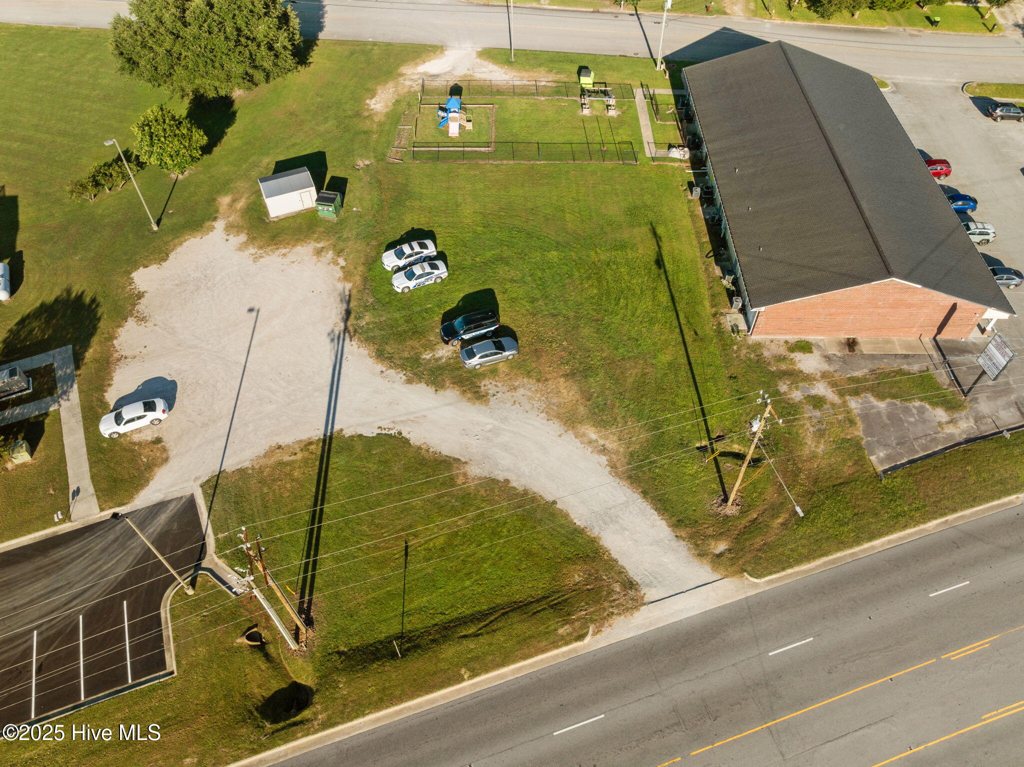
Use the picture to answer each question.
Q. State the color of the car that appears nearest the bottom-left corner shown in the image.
white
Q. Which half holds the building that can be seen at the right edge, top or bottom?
top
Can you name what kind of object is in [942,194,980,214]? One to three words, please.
car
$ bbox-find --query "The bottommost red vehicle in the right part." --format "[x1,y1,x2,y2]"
[920,160,953,182]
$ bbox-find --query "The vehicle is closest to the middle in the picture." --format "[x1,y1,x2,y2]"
[459,338,519,369]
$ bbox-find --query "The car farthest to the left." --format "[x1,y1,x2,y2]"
[97,399,168,439]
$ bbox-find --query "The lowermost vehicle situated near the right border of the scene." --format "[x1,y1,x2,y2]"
[986,268,1024,290]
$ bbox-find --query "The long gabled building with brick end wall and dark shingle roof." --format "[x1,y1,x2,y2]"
[683,41,1015,342]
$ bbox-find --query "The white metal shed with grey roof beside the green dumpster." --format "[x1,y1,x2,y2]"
[258,171,317,220]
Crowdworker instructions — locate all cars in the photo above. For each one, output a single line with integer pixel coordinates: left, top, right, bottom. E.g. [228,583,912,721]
[381,242,436,271]
[439,309,499,346]
[942,194,980,214]
[960,223,995,247]
[391,262,447,293]
[986,102,1024,123]
[920,160,953,182]
[986,268,1024,290]
[459,338,519,369]
[97,399,168,439]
